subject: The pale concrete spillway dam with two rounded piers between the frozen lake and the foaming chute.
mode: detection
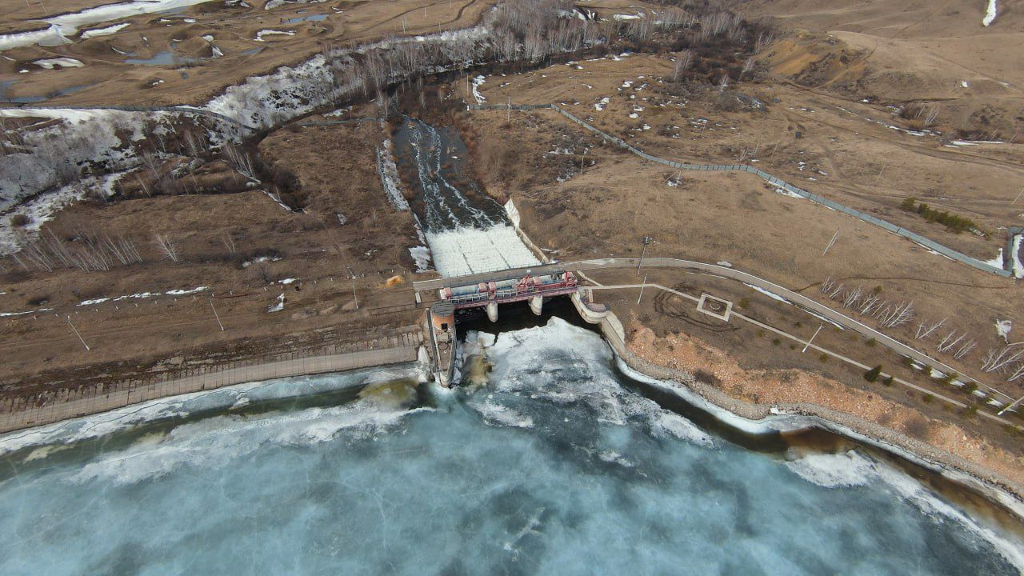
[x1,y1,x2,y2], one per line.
[414,200,632,365]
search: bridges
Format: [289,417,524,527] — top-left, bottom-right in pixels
[412,260,588,292]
